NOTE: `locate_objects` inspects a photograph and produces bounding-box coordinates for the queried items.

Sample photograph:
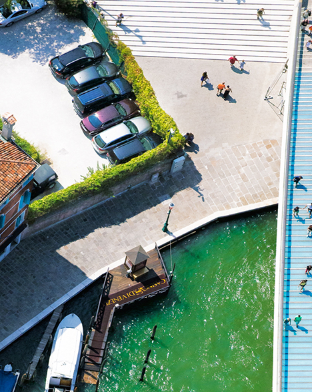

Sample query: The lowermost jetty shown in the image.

[82,242,172,389]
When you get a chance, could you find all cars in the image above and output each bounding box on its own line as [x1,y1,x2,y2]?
[67,60,120,92]
[81,98,138,133]
[106,133,159,164]
[74,77,130,112]
[47,44,105,80]
[30,163,67,196]
[93,118,147,151]
[0,0,45,28]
